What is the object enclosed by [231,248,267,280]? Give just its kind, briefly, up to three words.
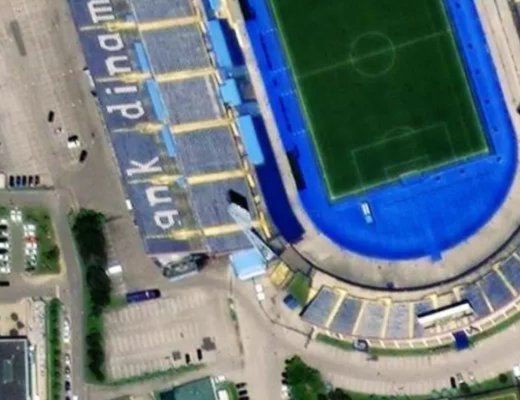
building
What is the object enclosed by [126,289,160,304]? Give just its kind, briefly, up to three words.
vehicle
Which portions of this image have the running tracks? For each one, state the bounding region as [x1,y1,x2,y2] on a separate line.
[238,0,519,264]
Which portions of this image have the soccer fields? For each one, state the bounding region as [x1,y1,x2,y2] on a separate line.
[269,0,494,203]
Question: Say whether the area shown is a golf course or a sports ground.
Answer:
sports ground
